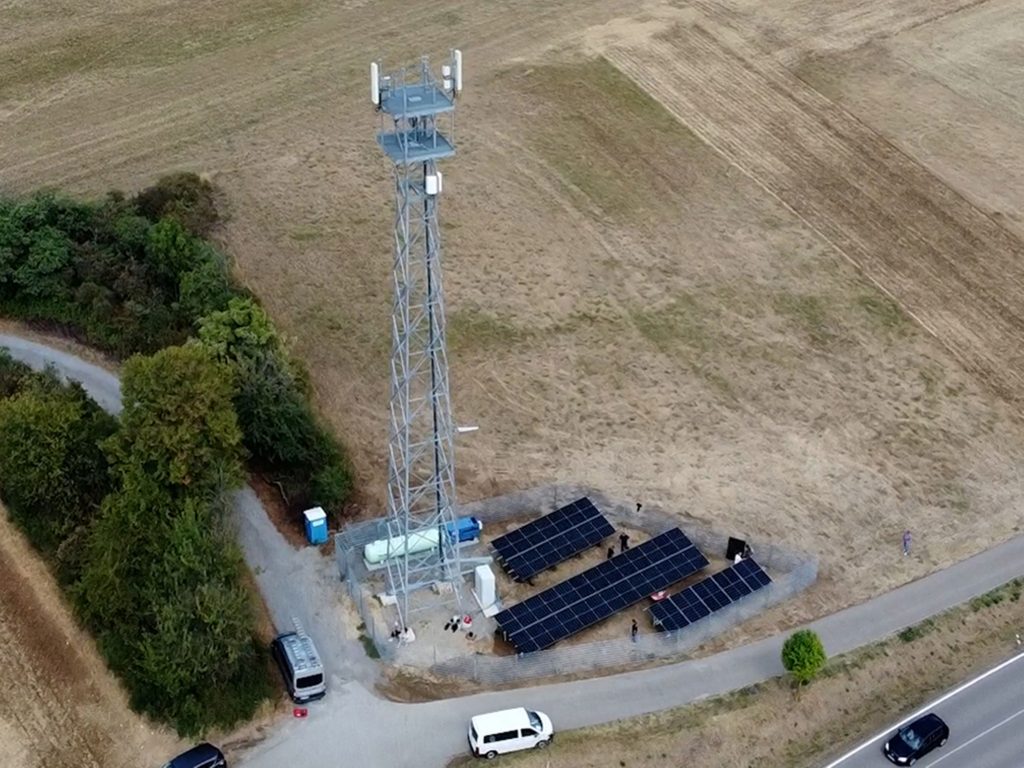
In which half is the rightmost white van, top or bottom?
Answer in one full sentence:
Seen from above, the rightmost white van lies in the bottom half of the view.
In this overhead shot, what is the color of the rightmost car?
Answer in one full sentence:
From above, the rightmost car appears black.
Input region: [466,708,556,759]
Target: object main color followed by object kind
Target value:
white van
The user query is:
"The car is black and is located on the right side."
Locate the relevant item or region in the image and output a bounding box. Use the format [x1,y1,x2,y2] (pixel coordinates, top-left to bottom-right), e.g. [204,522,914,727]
[886,711,954,767]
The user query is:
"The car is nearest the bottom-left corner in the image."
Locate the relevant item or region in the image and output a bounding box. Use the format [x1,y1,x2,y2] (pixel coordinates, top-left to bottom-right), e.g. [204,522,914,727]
[164,739,231,768]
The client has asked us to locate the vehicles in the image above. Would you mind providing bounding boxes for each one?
[886,711,954,767]
[164,739,231,768]
[466,708,556,759]
[273,633,326,701]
